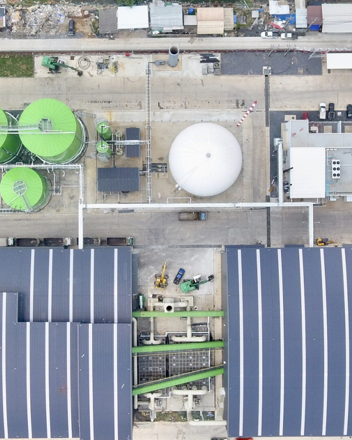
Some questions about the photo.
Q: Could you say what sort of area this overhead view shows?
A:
industrial area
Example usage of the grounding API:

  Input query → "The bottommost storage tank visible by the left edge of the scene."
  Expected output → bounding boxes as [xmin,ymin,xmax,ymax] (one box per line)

[0,166,51,211]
